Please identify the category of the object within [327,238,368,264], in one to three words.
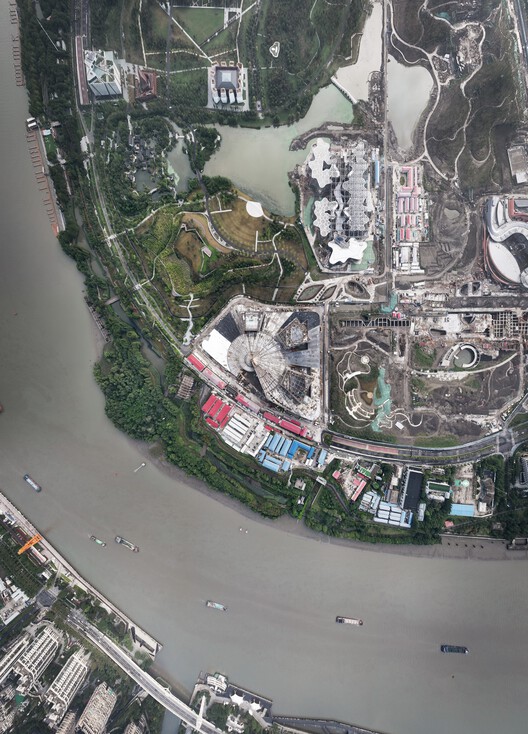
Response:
greenhouse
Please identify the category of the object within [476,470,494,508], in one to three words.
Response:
building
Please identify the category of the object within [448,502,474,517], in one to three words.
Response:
building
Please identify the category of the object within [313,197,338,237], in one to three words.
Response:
greenhouse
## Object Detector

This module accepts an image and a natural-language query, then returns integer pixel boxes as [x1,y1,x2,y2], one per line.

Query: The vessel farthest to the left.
[23,473,41,492]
